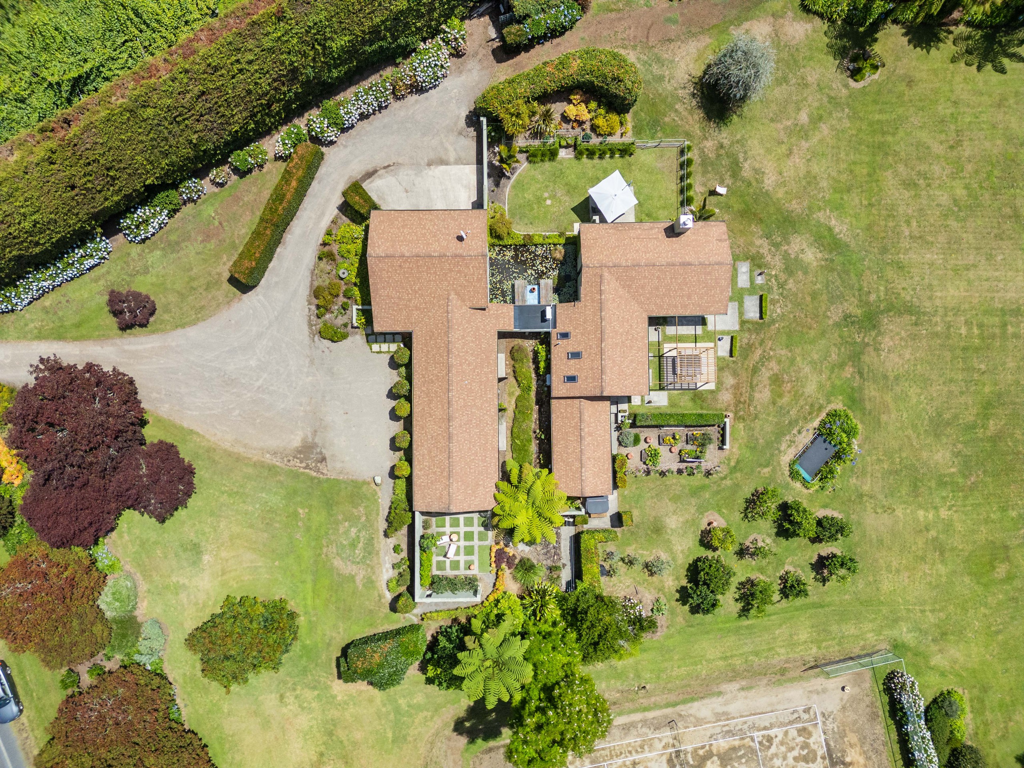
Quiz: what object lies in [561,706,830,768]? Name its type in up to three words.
tennis court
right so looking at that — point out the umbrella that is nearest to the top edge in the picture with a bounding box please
[588,170,638,219]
